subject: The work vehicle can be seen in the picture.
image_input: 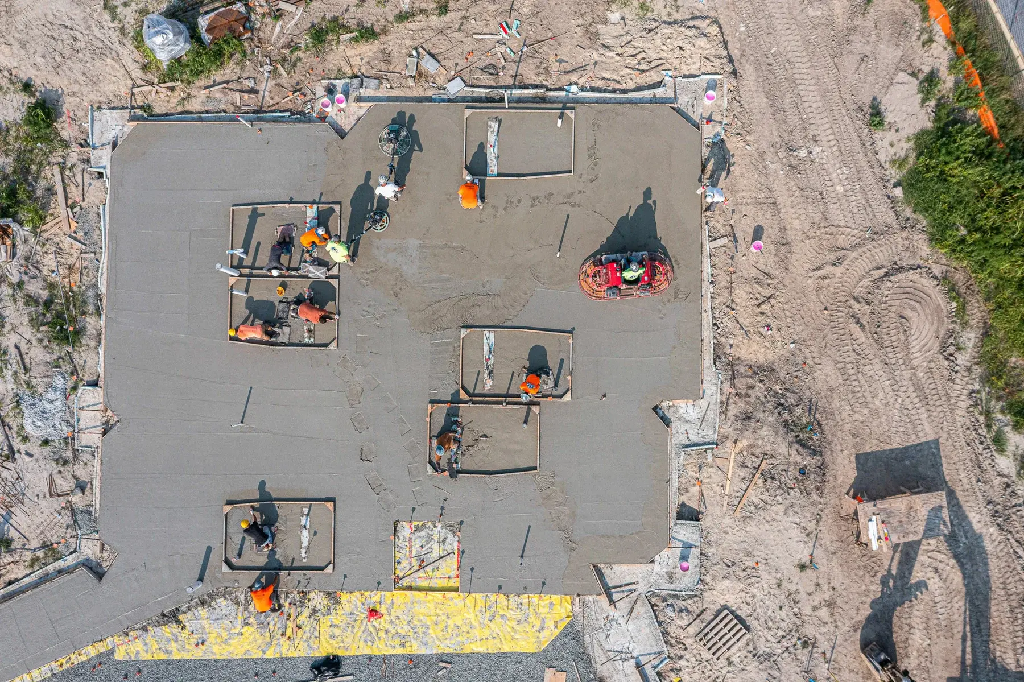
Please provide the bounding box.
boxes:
[856,644,908,682]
